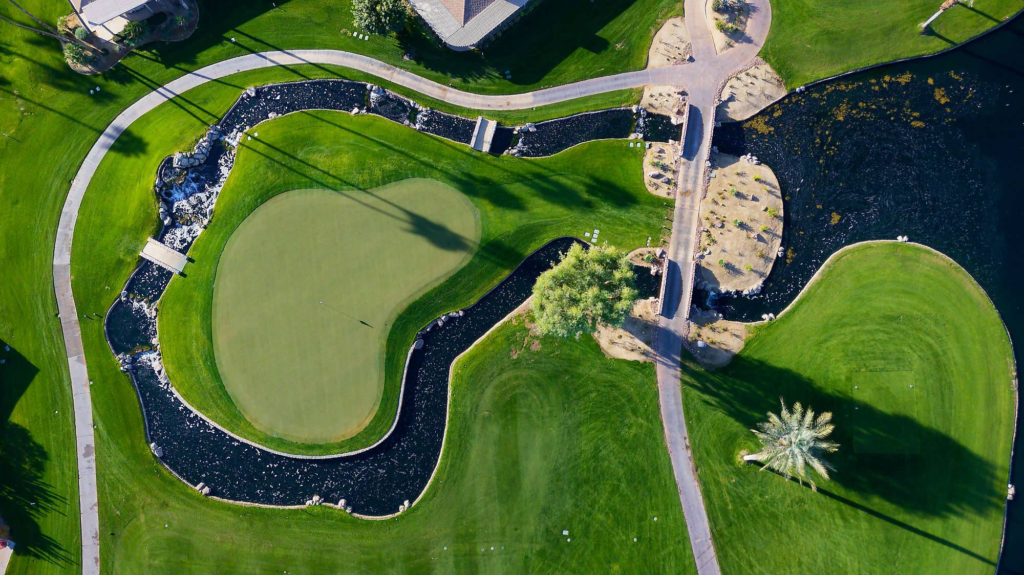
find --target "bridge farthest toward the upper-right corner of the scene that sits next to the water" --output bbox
[679,101,717,160]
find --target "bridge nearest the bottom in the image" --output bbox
[657,257,696,319]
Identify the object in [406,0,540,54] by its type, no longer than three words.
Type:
house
